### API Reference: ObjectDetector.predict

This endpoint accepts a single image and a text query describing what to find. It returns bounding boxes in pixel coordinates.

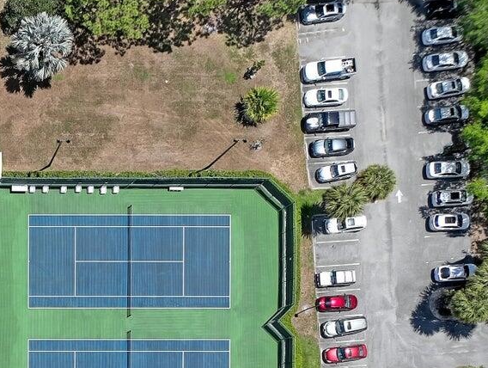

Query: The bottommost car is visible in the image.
[322,344,367,363]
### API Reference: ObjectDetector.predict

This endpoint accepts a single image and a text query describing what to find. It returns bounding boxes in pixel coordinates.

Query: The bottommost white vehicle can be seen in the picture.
[322,316,367,337]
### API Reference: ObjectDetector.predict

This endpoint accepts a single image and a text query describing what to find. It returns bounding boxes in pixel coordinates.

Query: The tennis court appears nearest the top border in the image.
[27,214,231,308]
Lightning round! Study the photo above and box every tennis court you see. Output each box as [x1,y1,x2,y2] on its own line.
[27,214,231,308]
[27,338,231,368]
